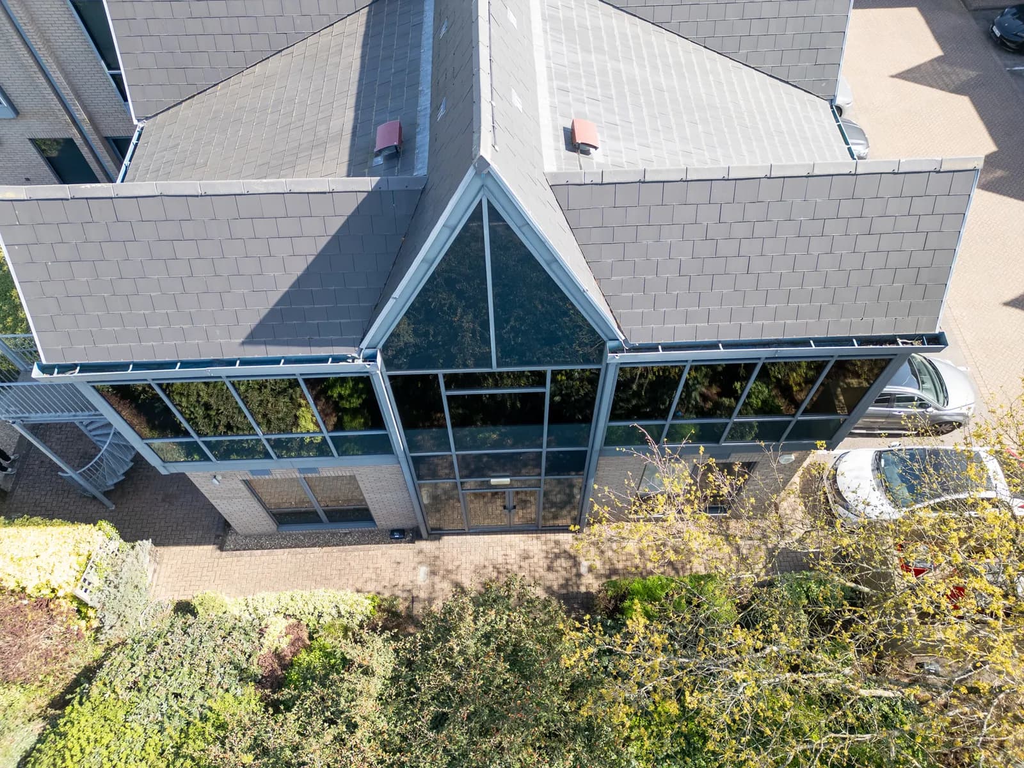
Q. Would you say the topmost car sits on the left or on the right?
right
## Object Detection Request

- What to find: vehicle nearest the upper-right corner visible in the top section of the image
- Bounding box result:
[978,5,1024,60]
